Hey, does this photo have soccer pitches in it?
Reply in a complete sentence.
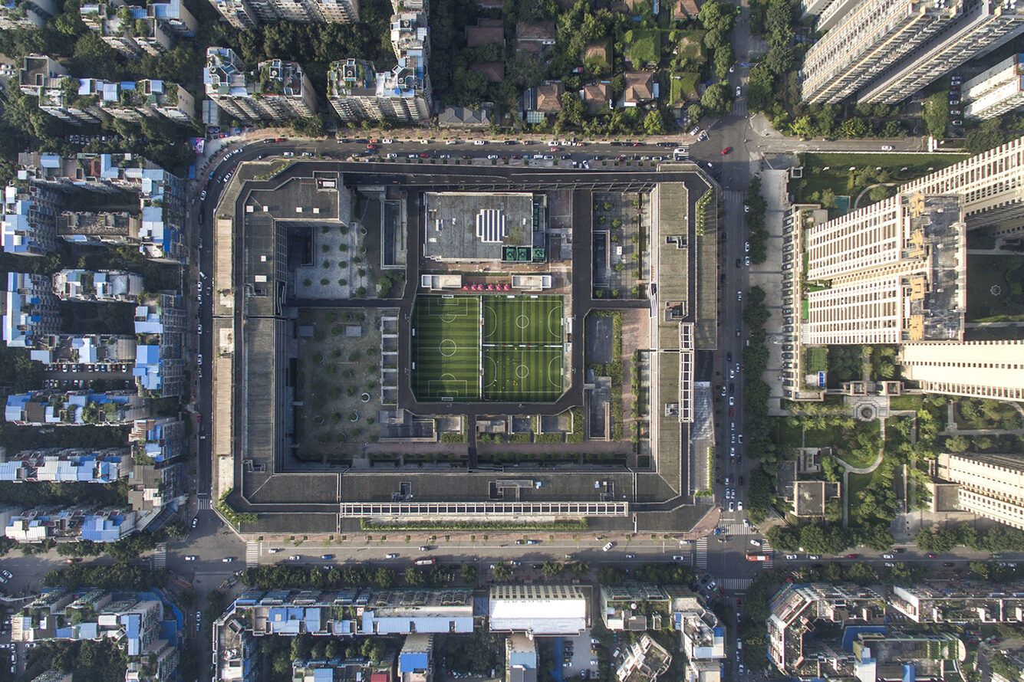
Yes, there's a soccer pitch down there.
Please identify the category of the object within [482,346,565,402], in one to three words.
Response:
soccer field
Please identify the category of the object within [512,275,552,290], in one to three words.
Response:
building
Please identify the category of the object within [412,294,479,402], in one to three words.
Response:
soccer field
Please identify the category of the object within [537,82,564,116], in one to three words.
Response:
house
